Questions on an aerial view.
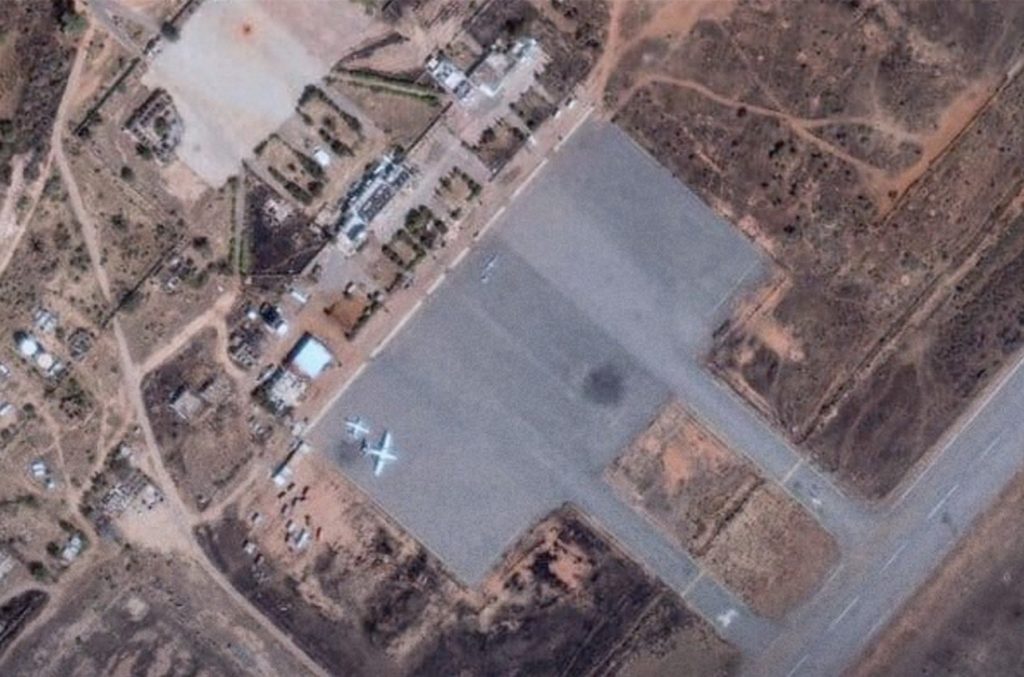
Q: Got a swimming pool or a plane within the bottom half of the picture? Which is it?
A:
plane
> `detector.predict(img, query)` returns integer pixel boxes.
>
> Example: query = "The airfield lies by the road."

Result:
[303,119,1024,677]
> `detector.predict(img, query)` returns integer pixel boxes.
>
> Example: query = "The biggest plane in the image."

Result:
[362,432,397,475]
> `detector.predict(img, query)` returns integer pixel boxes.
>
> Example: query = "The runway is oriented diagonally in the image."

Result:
[749,358,1024,677]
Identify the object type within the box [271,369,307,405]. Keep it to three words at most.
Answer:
building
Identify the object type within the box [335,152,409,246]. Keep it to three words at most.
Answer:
building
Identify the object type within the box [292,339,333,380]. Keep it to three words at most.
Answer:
hangar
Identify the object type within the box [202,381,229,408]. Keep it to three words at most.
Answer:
house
